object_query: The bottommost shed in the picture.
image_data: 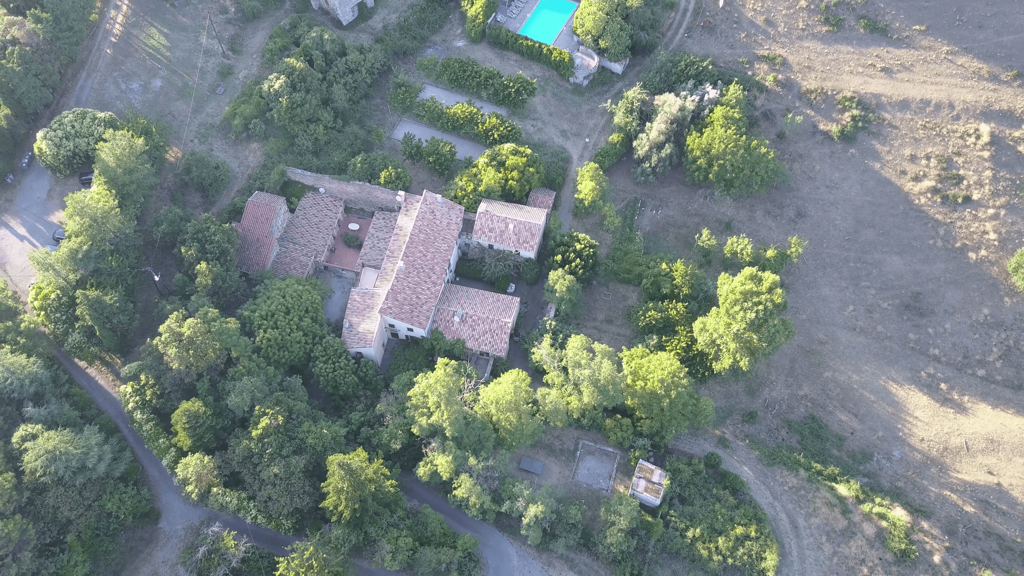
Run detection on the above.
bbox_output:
[630,461,667,504]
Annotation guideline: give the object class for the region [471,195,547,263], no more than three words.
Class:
house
